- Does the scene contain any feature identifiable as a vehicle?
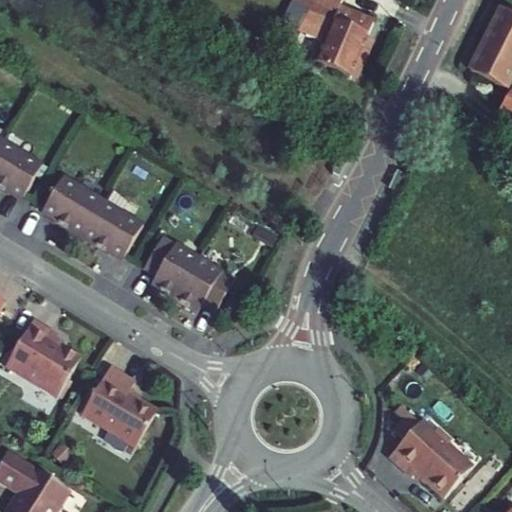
Yes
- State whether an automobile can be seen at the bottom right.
Yes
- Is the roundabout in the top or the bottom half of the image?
bottom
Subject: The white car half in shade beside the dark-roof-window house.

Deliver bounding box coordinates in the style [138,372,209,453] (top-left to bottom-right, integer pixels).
[15,308,33,328]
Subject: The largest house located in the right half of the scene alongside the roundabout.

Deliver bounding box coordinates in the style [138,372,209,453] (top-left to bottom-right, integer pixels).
[389,419,474,498]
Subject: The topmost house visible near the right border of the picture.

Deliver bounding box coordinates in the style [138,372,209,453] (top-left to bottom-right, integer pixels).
[468,4,512,91]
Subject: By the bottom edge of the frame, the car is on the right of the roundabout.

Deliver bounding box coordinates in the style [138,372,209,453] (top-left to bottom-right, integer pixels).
[409,484,432,504]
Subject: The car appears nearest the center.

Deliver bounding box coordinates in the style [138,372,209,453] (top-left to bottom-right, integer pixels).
[196,310,210,332]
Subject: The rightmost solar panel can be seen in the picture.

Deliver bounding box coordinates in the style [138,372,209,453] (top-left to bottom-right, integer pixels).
[94,397,141,428]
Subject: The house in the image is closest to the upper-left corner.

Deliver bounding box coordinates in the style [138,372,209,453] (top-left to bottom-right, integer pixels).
[0,138,43,198]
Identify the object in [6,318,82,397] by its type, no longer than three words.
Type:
house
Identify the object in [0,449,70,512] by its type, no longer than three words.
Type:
house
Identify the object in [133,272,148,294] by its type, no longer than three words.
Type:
car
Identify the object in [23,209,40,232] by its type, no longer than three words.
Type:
vehicle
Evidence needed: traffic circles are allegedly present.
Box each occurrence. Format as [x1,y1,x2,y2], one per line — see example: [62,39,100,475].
[212,340,361,496]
